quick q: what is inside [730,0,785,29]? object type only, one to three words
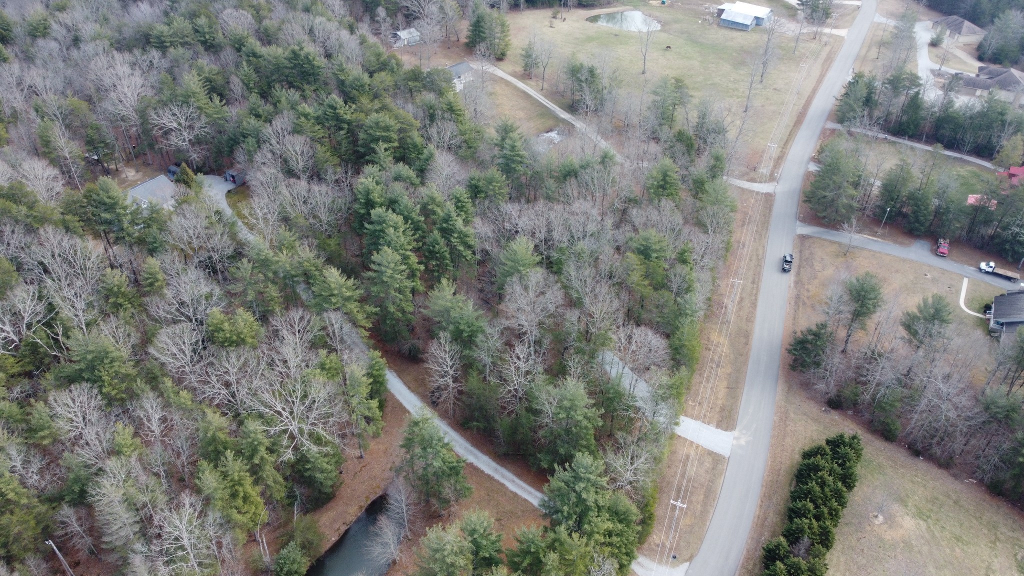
barn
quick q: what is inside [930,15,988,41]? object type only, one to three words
building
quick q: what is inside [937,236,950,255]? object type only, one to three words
vehicle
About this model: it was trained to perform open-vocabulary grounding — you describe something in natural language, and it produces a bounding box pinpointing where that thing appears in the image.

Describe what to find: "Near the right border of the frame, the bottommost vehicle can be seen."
[978,263,1024,284]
